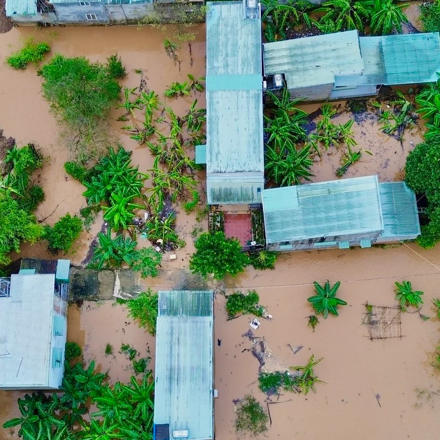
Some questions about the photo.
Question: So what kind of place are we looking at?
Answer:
residential area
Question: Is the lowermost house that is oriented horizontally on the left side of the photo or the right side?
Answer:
right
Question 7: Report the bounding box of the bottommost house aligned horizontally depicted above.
[261,176,422,255]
